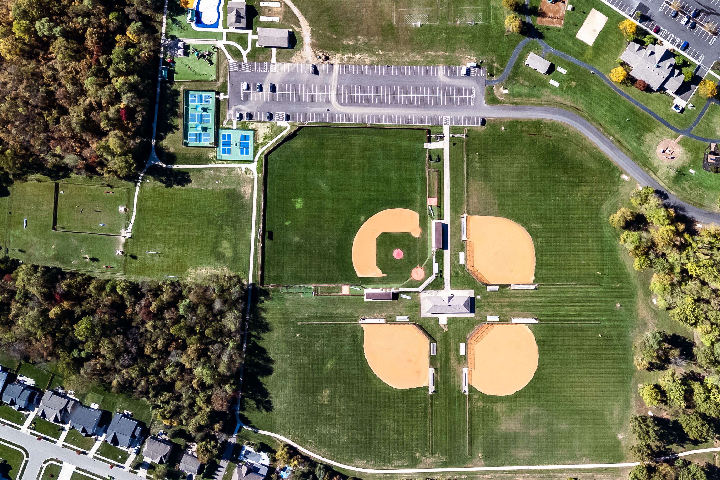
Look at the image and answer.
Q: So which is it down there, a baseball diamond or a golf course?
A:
baseball diamond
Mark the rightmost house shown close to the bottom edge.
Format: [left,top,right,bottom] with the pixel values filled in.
[233,460,268,480]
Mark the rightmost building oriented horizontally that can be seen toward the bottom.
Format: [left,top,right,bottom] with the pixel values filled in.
[426,296,470,312]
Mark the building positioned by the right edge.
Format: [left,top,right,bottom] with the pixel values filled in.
[620,41,684,93]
